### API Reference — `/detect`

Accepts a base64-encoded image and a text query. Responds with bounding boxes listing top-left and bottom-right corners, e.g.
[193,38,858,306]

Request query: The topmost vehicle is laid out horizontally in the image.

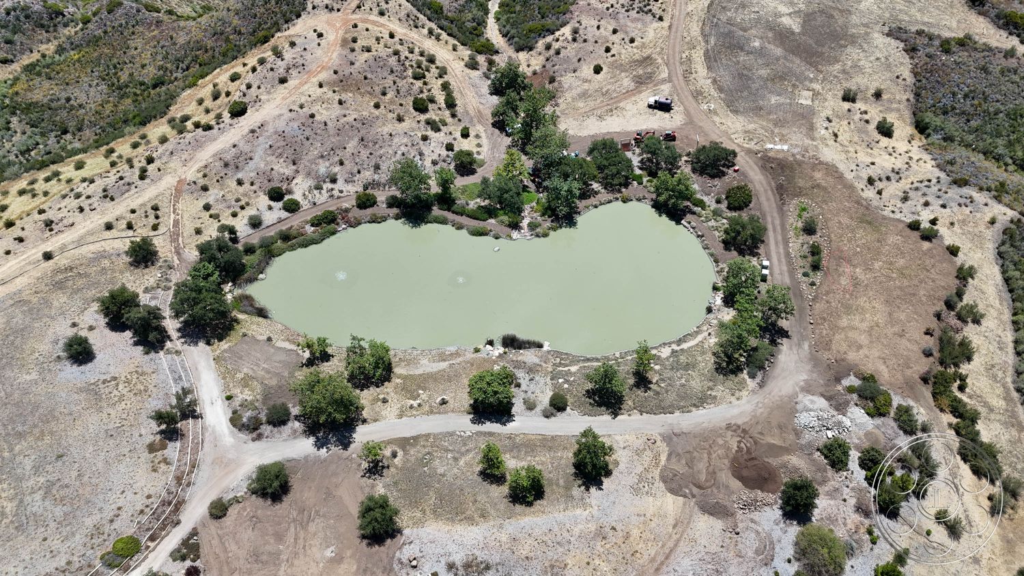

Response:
[645,95,675,110]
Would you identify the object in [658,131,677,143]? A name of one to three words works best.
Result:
vehicle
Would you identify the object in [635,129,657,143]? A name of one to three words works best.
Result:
work vehicle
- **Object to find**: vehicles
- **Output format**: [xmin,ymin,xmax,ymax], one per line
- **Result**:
[658,131,677,143]
[645,95,675,110]
[635,129,657,143]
